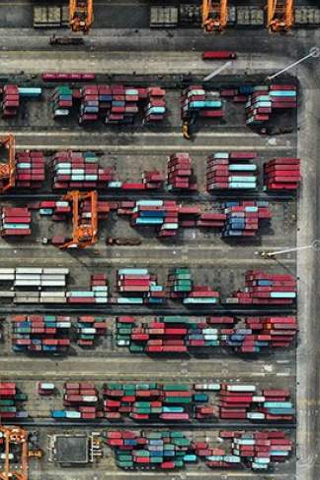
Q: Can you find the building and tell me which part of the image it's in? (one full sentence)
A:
The building is in the bottom left part of the image.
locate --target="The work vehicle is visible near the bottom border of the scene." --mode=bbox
[28,449,42,462]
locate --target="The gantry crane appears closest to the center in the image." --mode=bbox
[54,191,97,249]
